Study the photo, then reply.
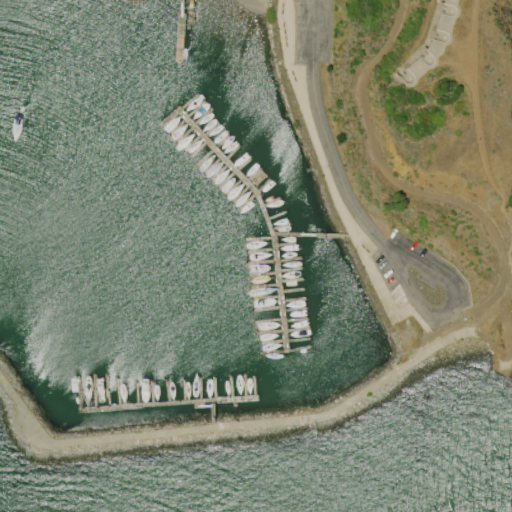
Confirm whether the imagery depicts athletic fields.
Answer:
No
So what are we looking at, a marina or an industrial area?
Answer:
marina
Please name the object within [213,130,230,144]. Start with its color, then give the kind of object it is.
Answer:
white boat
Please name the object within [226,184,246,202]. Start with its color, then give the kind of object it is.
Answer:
white boat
